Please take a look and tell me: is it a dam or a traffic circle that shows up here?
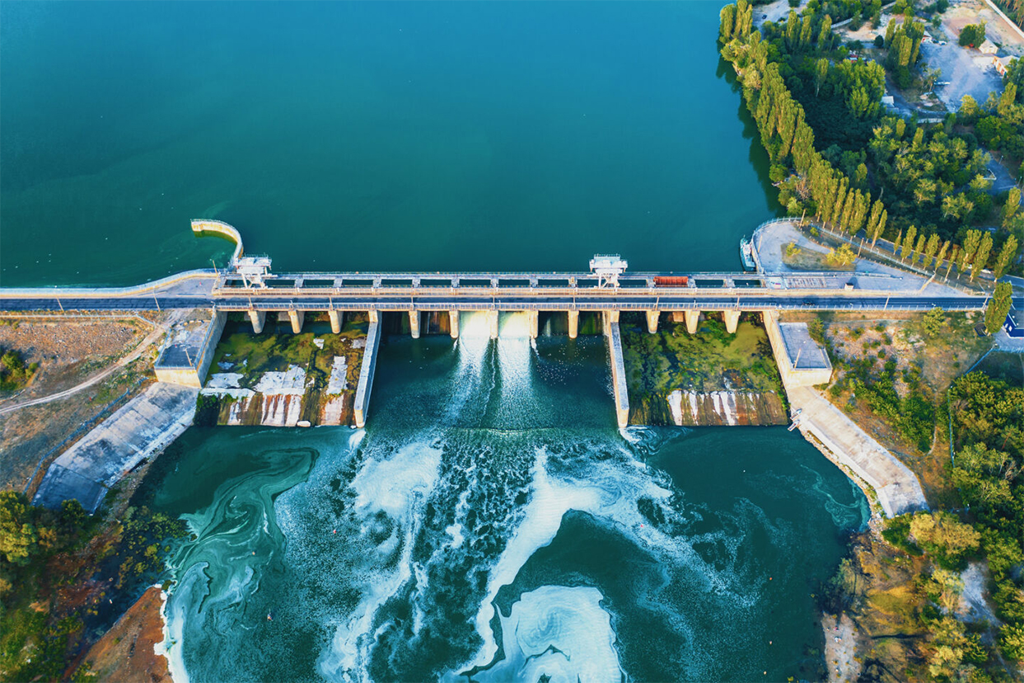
dam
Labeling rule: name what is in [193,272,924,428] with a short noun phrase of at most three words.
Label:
dam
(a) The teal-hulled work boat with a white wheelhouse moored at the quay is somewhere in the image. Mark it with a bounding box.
[740,234,756,271]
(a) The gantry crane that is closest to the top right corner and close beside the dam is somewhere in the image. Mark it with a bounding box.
[589,249,630,288]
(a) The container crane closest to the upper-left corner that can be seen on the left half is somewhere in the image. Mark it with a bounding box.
[229,249,274,288]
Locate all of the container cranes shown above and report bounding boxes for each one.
[229,249,274,288]
[589,249,630,288]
